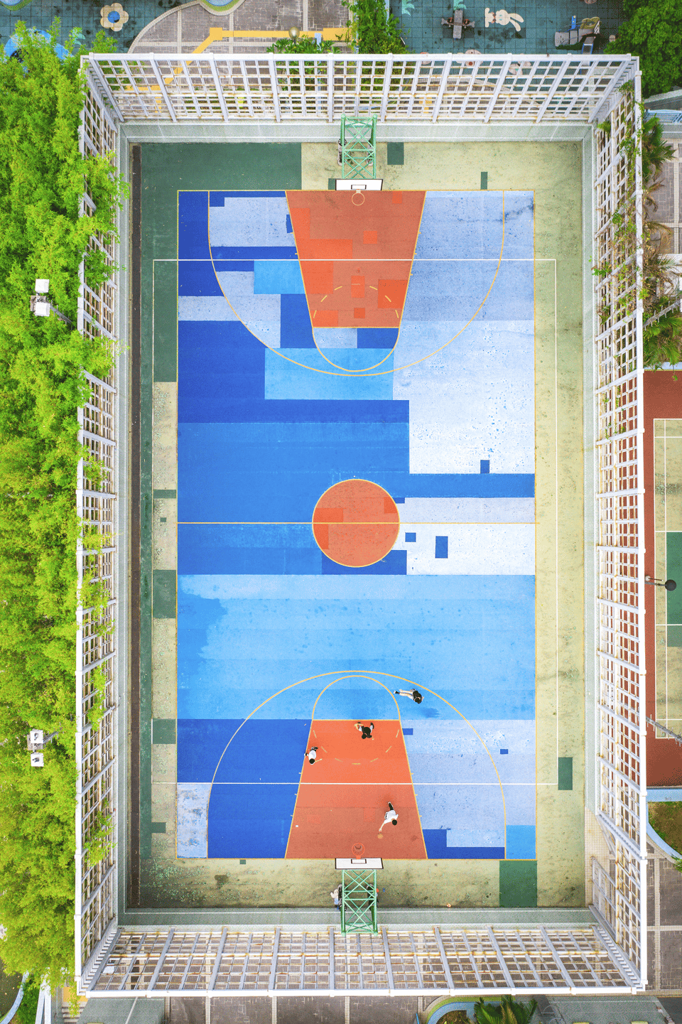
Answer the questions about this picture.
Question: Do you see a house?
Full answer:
No, I can see no house in this picture.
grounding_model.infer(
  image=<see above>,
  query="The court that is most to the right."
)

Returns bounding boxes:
[602,370,682,785]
